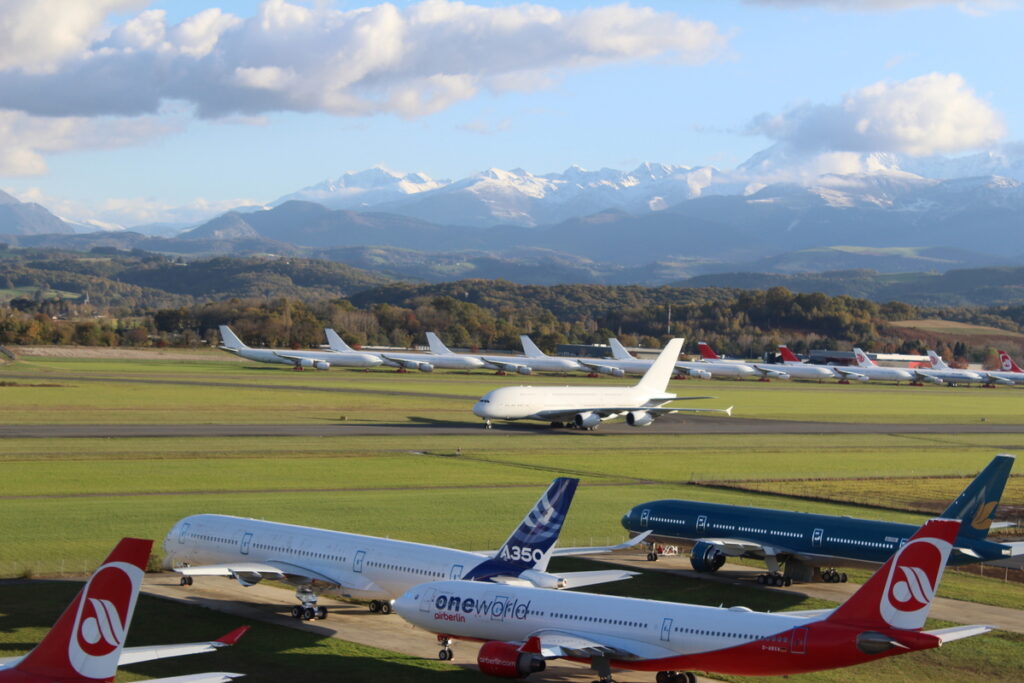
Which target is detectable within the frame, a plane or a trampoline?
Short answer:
plane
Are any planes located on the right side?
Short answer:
Yes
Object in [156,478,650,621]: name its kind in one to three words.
airplane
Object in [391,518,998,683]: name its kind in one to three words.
airplane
